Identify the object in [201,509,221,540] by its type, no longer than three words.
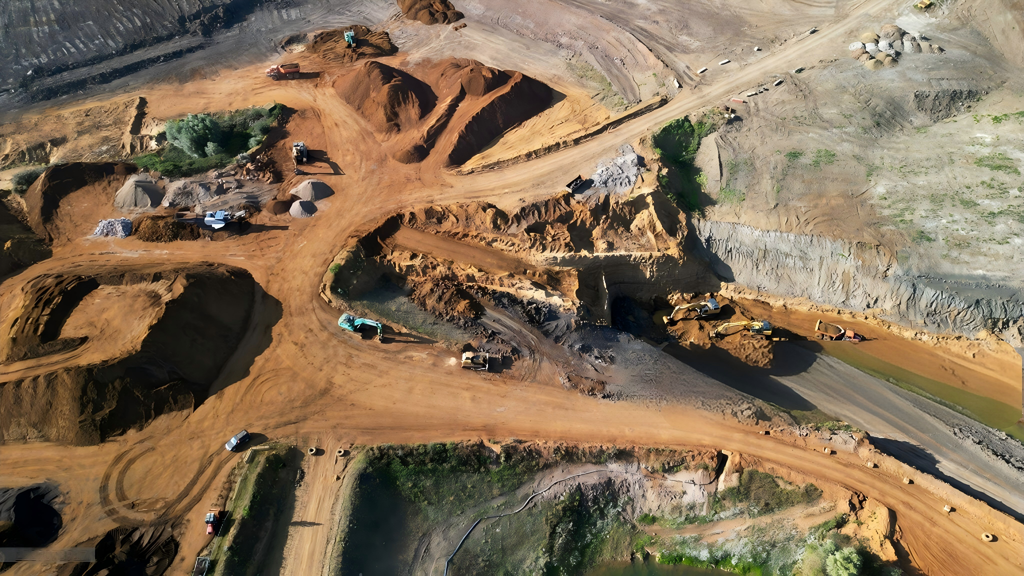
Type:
work vehicle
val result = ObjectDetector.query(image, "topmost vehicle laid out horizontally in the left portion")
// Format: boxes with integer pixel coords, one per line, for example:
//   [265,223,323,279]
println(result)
[267,64,298,78]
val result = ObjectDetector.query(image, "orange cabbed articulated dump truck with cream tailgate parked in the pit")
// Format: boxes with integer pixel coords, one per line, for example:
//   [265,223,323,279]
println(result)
[817,323,864,344]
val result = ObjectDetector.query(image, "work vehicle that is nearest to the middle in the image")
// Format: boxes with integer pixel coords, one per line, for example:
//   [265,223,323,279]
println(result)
[459,355,491,376]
